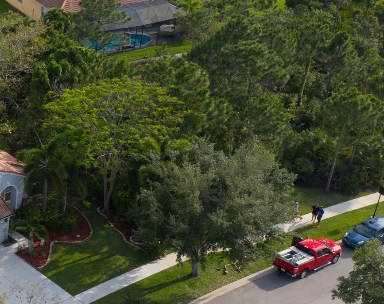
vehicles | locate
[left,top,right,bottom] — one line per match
[337,210,384,250]
[269,234,352,280]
